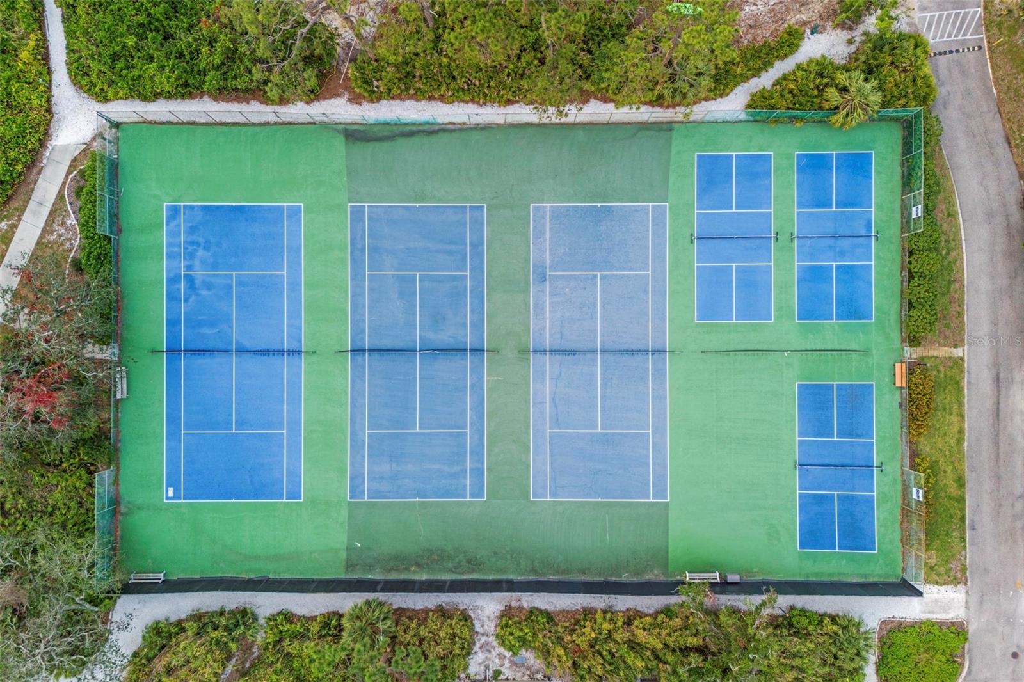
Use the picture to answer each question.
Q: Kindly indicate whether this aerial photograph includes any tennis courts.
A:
Yes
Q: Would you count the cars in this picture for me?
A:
none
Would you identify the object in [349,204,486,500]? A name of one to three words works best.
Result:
tennis court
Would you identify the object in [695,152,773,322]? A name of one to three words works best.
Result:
sports court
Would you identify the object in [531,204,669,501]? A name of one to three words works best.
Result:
tennis court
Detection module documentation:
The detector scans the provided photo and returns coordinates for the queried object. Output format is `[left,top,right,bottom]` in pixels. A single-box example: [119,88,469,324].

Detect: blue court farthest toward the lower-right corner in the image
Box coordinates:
[797,383,876,552]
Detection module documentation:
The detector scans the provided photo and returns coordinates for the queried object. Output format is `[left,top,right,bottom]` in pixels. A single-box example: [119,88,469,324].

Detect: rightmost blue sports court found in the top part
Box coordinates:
[796,151,874,321]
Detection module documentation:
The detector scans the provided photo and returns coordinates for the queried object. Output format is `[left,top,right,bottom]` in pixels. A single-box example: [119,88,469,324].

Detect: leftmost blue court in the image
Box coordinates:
[164,204,303,501]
